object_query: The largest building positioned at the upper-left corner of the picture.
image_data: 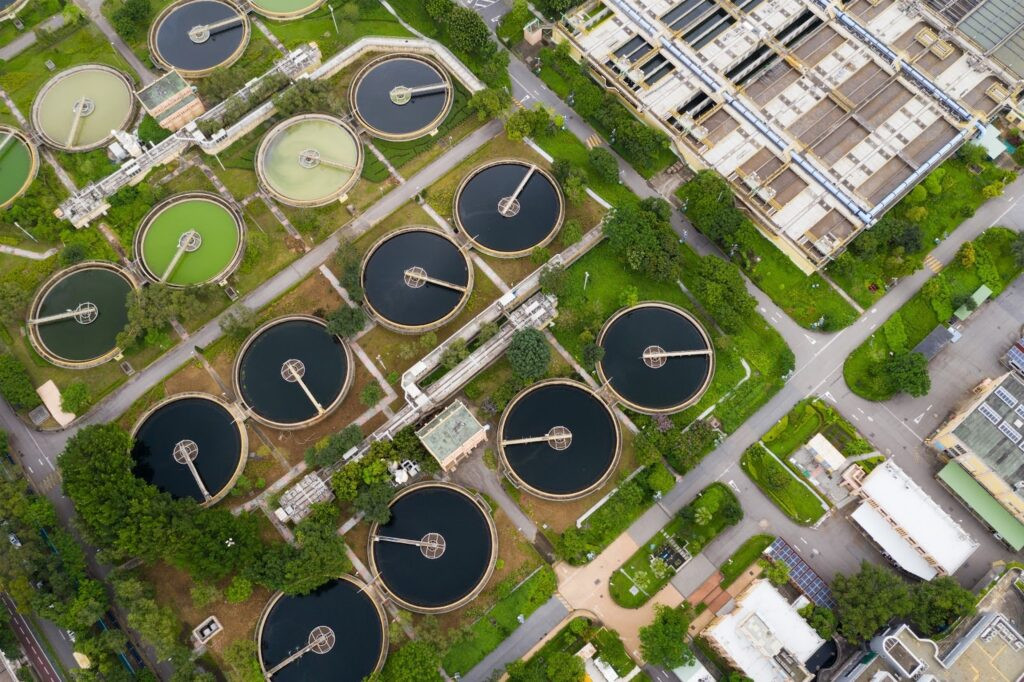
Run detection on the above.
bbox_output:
[135,67,204,133]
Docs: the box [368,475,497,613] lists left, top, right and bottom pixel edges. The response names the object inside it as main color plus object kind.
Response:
black storage tank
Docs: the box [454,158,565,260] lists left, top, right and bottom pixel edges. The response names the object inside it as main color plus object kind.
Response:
black storage tank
